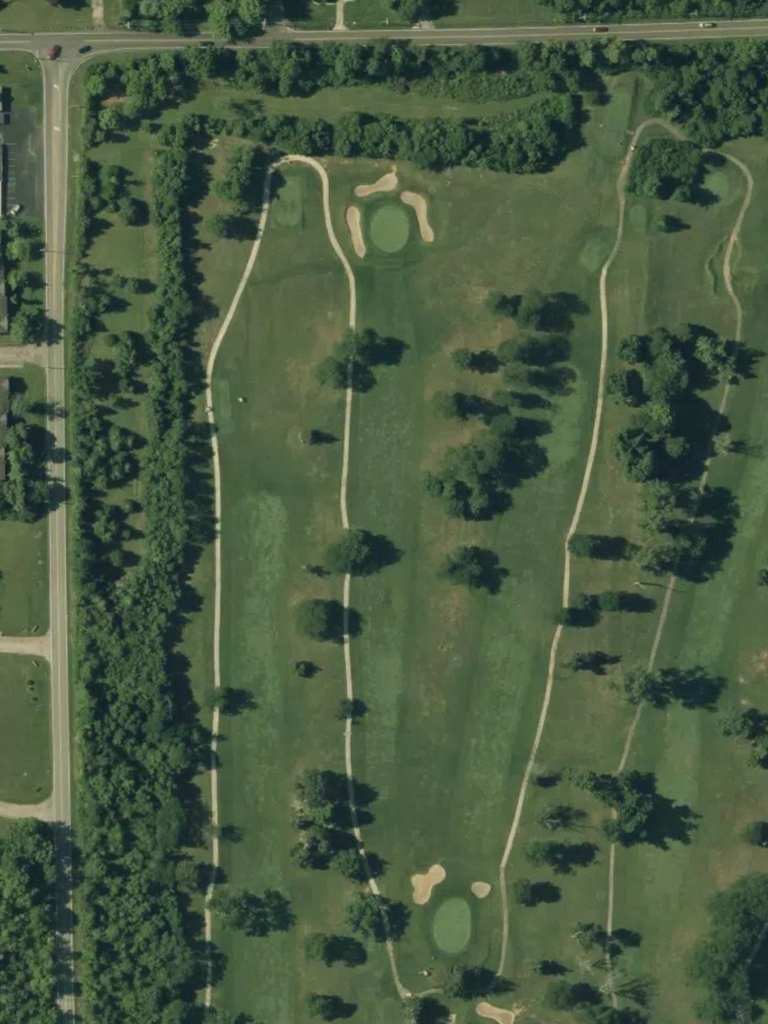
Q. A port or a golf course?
golf course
